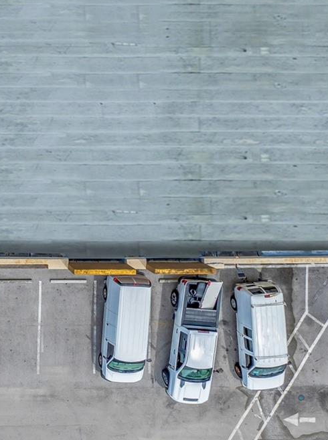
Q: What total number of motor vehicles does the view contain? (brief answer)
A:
three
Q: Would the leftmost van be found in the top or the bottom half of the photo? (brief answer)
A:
bottom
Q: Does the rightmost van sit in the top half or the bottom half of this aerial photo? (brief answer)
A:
bottom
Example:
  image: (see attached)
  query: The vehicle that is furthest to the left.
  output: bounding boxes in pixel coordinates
[100,276,157,384]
